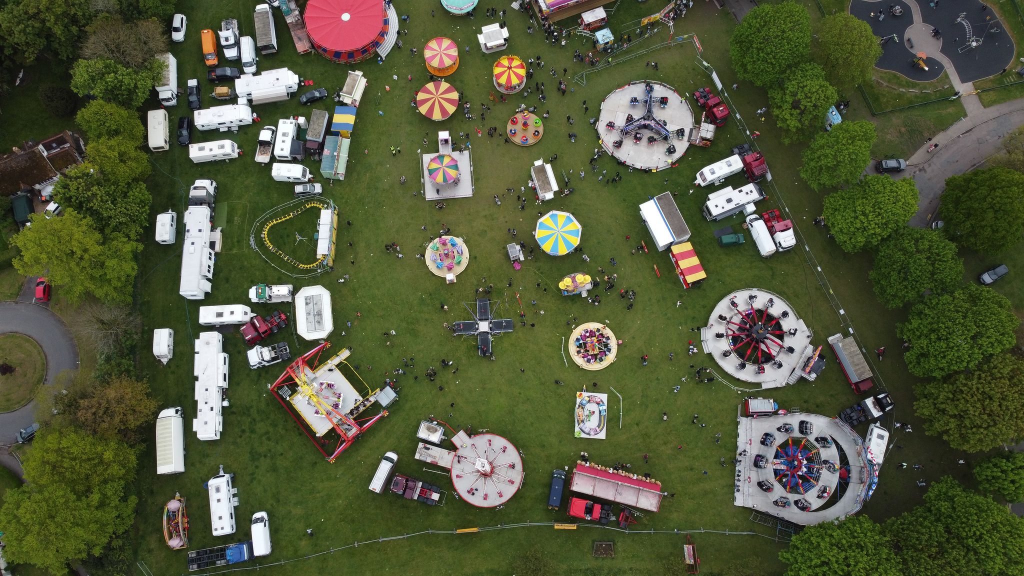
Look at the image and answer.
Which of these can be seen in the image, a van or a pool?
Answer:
van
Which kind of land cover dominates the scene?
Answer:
grass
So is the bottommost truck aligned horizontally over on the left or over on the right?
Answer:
left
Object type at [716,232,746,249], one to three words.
vehicle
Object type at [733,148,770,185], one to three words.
truck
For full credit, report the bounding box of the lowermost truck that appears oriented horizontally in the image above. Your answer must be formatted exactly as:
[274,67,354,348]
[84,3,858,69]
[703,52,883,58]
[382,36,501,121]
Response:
[189,538,259,573]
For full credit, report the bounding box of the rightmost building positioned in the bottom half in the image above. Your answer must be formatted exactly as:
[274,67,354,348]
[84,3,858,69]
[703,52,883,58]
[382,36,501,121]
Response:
[790,340,825,381]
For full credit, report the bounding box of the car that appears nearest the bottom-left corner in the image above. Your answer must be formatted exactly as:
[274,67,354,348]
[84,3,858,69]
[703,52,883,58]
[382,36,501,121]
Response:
[11,421,46,447]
